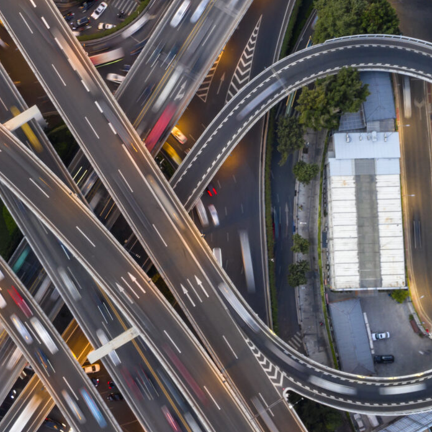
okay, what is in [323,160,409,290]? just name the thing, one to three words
building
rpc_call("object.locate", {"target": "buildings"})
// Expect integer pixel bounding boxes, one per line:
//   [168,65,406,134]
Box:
[323,160,409,290]
[324,299,374,374]
[357,71,395,122]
